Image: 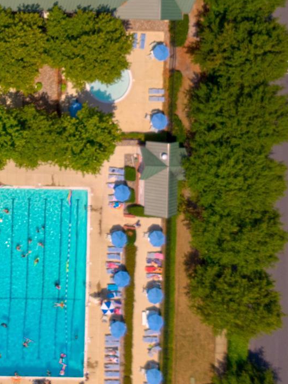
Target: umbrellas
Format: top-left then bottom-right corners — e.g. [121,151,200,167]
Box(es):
[145,313,162,330]
[110,230,127,247]
[145,288,162,304]
[102,301,114,314]
[147,231,165,248]
[152,44,168,59]
[109,320,127,336]
[113,269,130,286]
[150,111,168,129]
[145,367,162,384]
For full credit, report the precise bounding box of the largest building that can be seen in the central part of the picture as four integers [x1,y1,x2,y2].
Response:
[119,141,194,219]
